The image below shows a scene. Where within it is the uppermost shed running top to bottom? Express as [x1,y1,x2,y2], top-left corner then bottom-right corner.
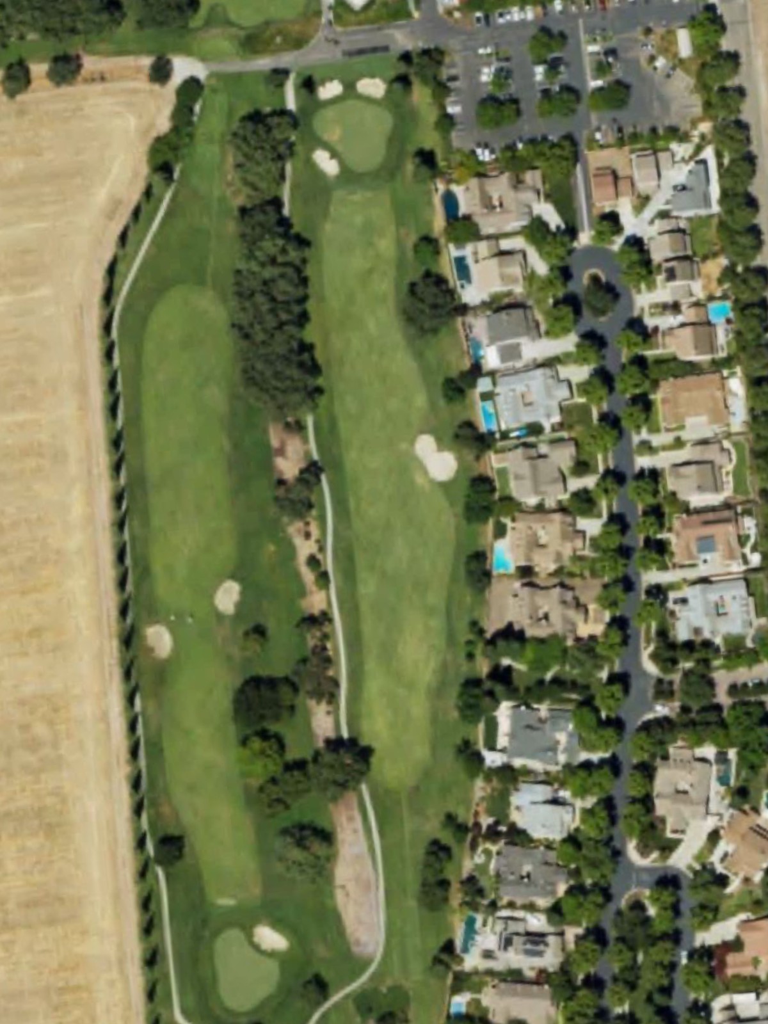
[679,27,692,57]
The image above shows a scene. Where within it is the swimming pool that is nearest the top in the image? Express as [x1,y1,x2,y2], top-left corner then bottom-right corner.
[443,187,460,221]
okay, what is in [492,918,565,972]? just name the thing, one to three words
house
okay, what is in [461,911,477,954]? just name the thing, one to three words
swimming pool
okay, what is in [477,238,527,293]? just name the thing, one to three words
house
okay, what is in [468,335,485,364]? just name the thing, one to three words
swimming pool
